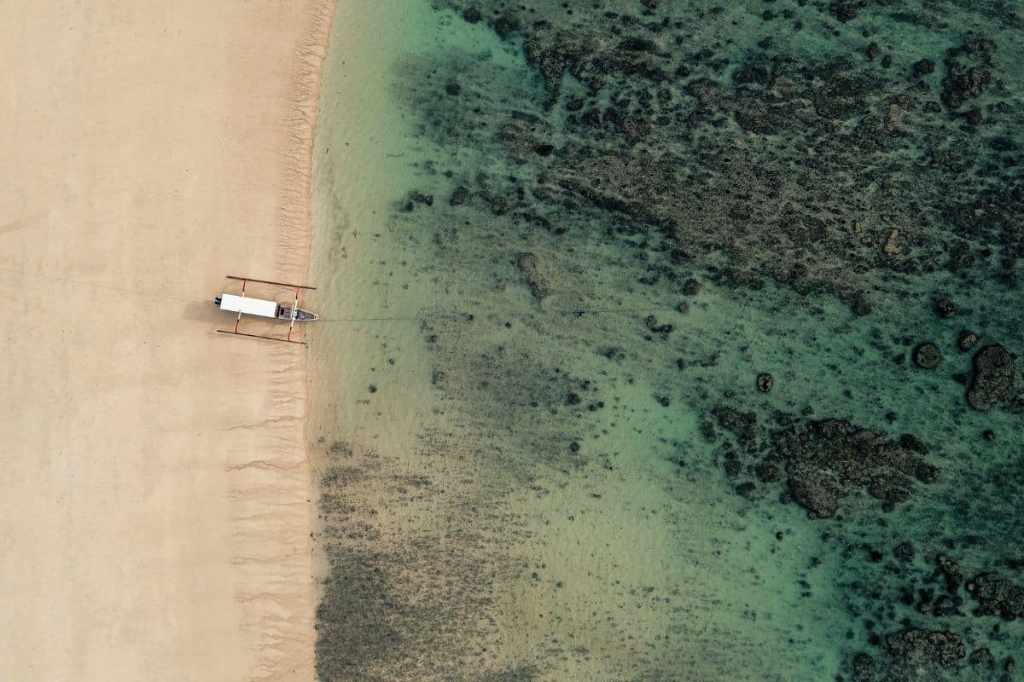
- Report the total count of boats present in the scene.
1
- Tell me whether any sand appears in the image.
Yes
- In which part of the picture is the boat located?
left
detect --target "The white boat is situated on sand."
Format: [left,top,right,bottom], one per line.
[212,275,322,344]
